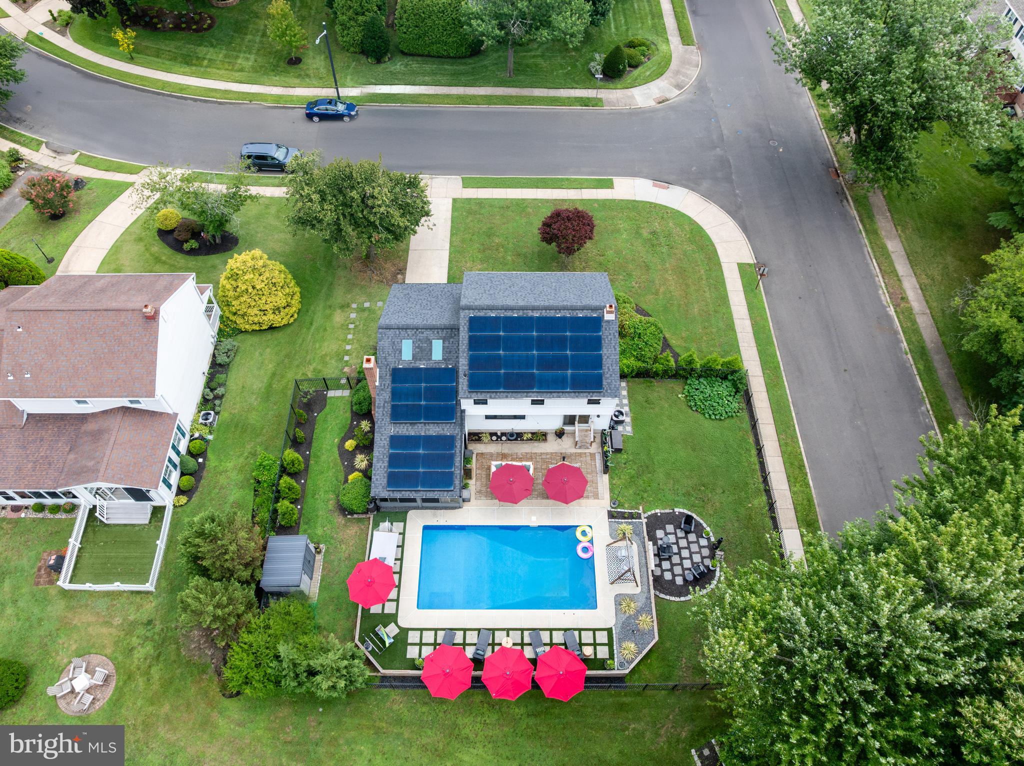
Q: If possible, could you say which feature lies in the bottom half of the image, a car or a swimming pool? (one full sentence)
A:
The one visible in the bottom half of the image is a swimming pool.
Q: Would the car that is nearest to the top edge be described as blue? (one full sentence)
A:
Yes, the car that is nearest to the top edge is indeed blue.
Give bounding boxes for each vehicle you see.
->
[304,96,359,120]
[238,140,302,172]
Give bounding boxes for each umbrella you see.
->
[541,465,588,507]
[420,646,476,704]
[488,465,534,507]
[480,648,536,706]
[344,561,397,611]
[533,648,587,705]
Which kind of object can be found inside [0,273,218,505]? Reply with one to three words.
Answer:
house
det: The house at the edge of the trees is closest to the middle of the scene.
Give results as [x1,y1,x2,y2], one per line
[360,271,620,509]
